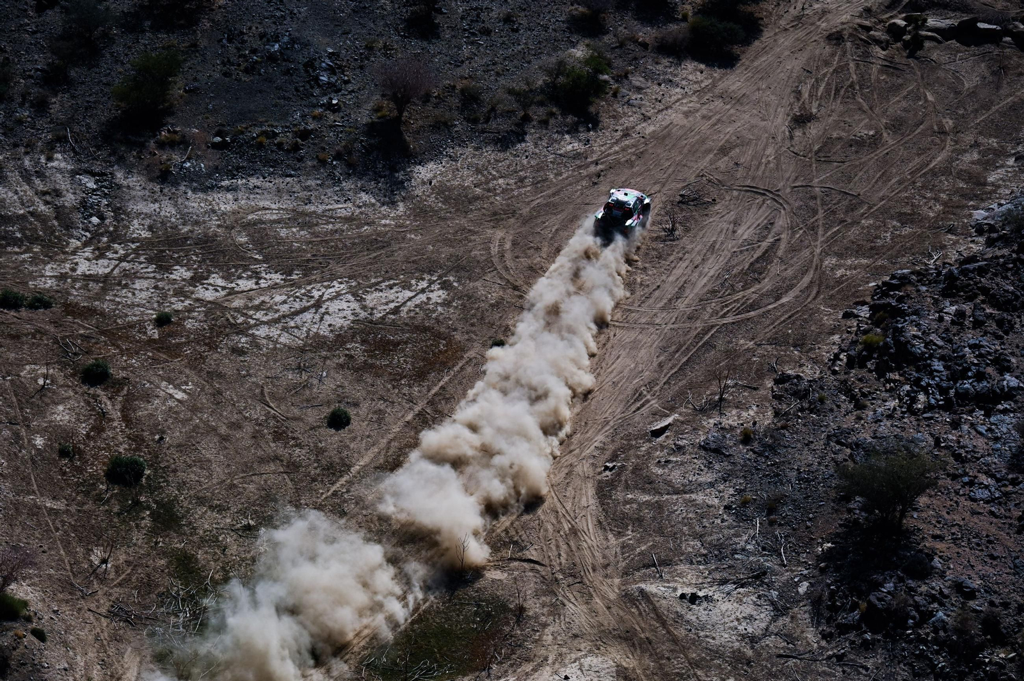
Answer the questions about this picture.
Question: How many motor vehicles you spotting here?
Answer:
1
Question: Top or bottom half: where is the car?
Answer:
top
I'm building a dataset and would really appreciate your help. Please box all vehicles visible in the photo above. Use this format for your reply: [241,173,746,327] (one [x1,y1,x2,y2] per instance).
[593,187,653,244]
